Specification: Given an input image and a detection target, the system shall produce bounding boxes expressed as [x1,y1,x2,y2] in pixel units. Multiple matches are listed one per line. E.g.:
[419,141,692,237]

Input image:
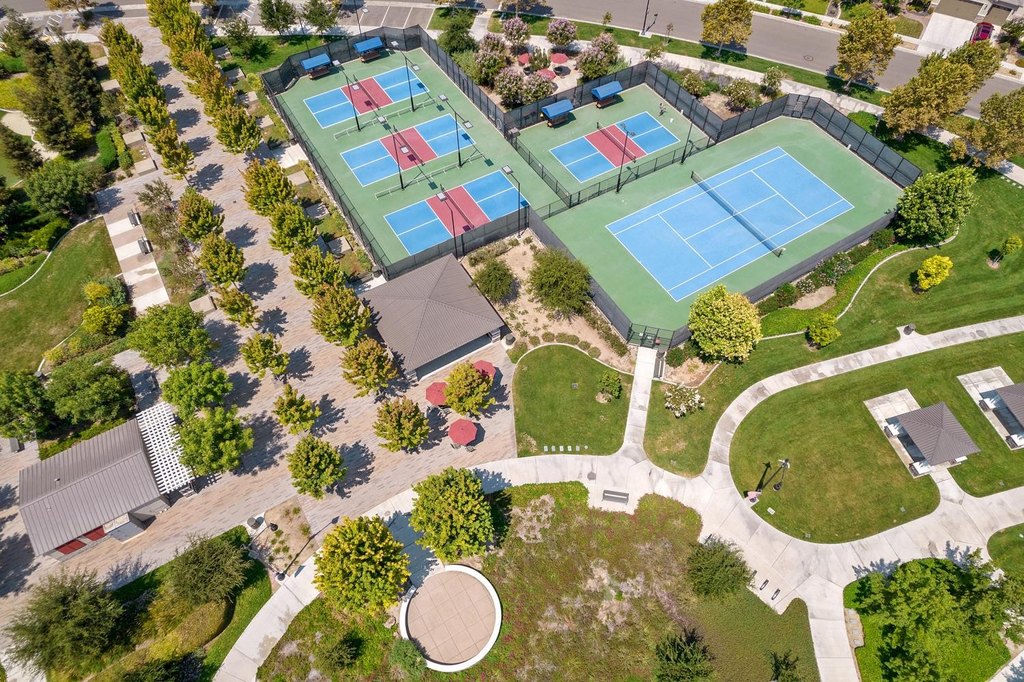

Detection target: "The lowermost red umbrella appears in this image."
[446,419,480,450]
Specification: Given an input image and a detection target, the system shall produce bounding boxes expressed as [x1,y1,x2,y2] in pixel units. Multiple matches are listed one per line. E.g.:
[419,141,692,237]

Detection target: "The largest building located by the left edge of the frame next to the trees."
[15,419,174,564]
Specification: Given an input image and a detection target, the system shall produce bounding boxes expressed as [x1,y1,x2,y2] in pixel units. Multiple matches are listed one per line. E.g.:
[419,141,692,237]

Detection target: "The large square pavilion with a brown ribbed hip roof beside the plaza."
[359,252,509,400]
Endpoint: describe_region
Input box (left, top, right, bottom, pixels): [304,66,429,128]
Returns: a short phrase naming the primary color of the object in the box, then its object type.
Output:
blue sports court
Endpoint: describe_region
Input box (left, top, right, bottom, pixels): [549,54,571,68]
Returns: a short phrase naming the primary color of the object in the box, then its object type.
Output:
red umbrella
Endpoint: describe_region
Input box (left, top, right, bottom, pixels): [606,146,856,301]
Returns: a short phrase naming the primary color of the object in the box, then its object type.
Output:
blue tennis court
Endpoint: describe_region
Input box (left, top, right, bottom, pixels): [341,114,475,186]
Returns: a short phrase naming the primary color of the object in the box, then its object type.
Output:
blue sports court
